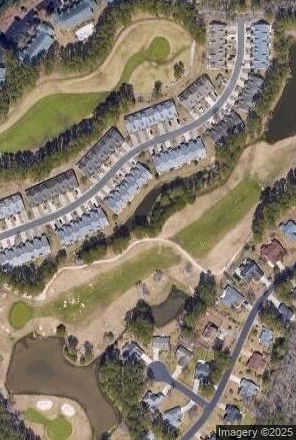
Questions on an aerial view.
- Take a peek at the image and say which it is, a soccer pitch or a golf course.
golf course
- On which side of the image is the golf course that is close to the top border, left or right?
left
